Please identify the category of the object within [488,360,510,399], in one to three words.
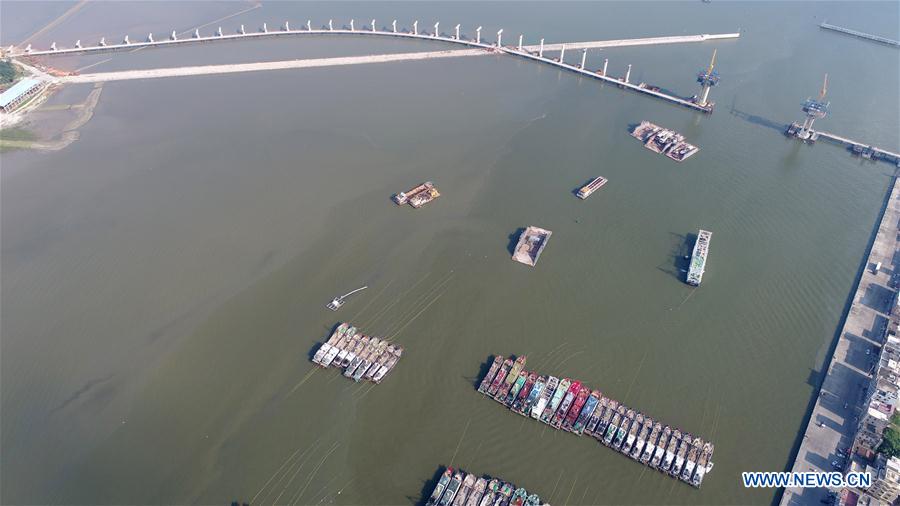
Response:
boat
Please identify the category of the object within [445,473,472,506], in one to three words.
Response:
boat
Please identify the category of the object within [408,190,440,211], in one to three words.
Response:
ship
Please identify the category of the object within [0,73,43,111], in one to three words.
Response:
shed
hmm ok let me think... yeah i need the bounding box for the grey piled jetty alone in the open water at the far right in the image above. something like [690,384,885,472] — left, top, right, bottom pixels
[818,24,900,48]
